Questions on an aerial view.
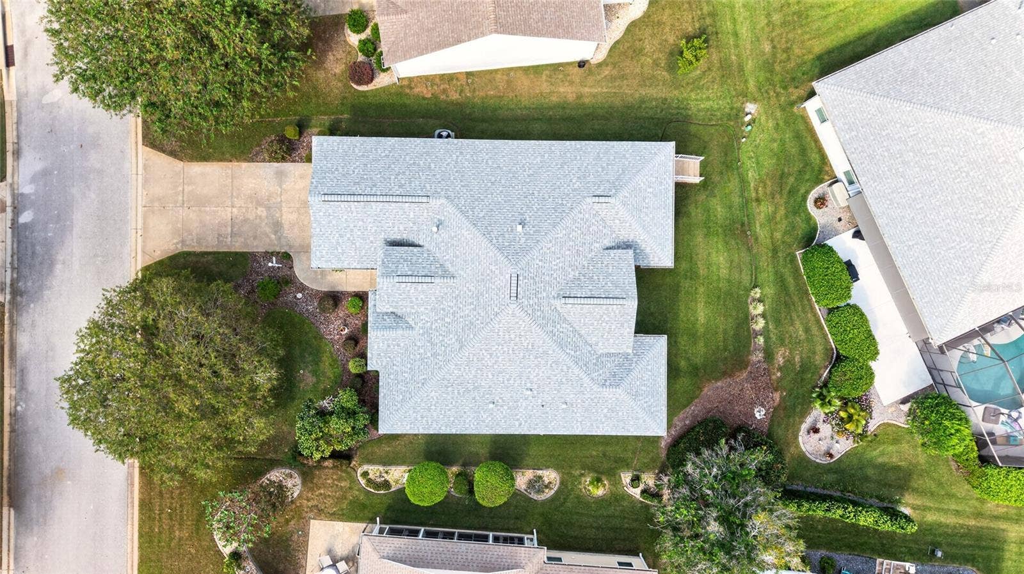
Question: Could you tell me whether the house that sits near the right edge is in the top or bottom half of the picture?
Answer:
top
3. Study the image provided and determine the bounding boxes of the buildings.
[356,514,658,574]
[368,0,616,83]
[793,0,1024,349]
[306,135,677,438]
